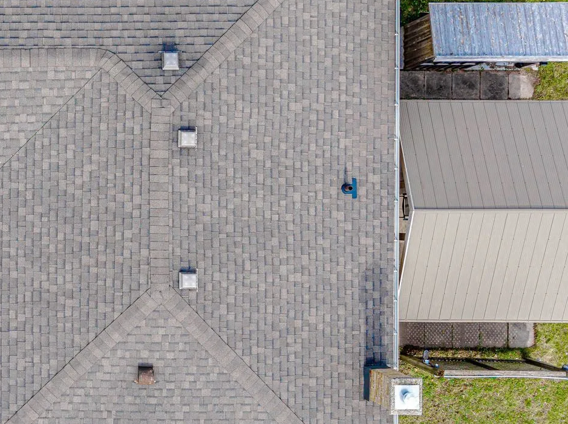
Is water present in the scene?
No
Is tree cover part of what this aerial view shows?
No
